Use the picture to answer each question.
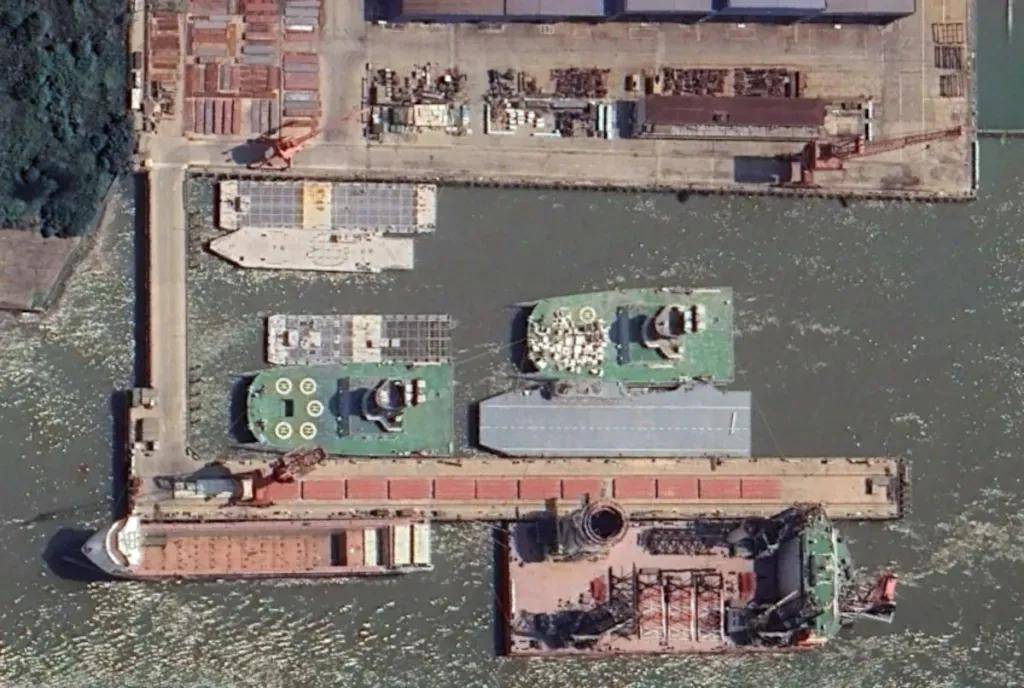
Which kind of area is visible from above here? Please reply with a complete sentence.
The area seen from above is a port.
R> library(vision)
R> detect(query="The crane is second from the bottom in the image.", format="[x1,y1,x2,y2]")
[640,526,785,555]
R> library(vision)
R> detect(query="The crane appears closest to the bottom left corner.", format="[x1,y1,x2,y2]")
[224,449,328,509]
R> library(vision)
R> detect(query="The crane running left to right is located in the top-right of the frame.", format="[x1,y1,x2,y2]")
[774,129,962,183]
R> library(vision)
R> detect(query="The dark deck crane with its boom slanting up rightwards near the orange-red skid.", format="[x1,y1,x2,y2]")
[729,590,801,640]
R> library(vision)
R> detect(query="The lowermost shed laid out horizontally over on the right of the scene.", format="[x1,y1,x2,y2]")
[634,96,823,141]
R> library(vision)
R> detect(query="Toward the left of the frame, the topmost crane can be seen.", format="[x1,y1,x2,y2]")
[256,126,333,171]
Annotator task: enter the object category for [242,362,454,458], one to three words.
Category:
ship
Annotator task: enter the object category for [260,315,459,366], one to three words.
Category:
ship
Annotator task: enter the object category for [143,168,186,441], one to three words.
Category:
pier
